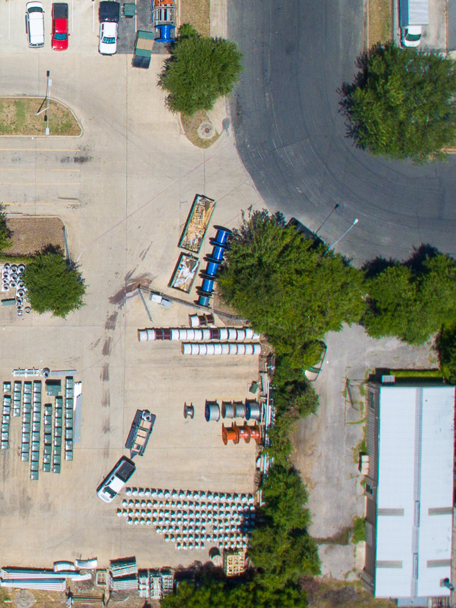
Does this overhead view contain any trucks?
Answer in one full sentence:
Yes, this view includes a truck.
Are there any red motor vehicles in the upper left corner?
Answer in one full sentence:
Yes, you'll find a red motor vehicle in the upper left corner.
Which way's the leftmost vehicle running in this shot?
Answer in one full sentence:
Seen from above, the leftmost vehicle lies vertically.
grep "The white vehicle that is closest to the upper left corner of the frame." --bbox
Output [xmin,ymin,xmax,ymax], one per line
[25,2,45,50]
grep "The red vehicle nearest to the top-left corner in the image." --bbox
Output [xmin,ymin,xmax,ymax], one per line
[50,2,70,52]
